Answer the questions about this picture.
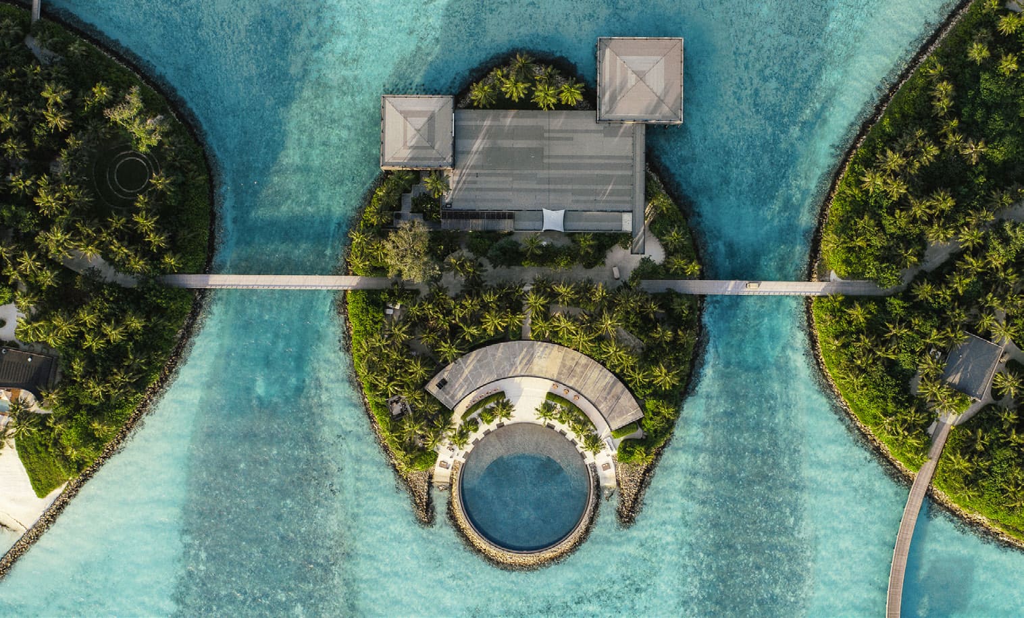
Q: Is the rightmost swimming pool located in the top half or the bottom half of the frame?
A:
bottom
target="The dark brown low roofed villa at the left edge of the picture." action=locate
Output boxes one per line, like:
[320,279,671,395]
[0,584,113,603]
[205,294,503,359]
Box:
[0,346,59,394]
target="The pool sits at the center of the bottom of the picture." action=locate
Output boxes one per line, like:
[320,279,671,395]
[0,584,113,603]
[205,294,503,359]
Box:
[457,420,592,558]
